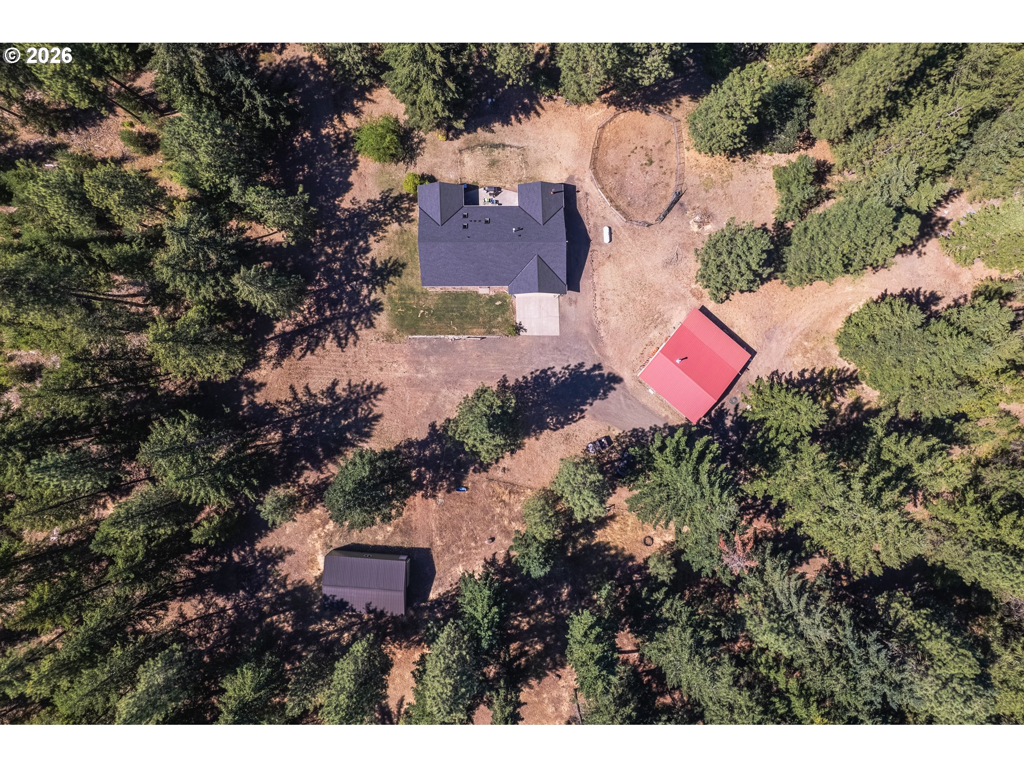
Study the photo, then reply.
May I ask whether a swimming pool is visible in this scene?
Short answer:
No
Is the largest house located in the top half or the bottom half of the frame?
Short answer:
top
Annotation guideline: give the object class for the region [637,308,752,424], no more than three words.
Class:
building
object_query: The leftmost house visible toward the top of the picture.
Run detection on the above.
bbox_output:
[417,181,568,294]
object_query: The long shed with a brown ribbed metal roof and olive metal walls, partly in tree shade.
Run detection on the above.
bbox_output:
[320,551,409,615]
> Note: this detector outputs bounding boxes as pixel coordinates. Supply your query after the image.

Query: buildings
[417,181,568,294]
[320,551,409,615]
[637,308,752,424]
